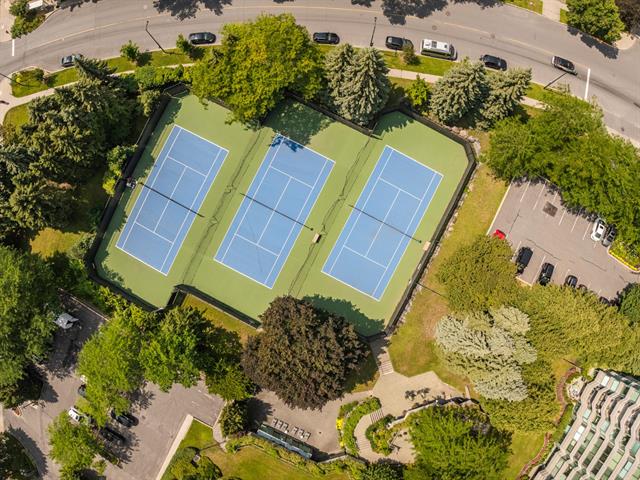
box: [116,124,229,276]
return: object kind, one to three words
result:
tennis court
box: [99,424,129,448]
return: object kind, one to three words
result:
car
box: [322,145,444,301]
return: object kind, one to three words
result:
tennis court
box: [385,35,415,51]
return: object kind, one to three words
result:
car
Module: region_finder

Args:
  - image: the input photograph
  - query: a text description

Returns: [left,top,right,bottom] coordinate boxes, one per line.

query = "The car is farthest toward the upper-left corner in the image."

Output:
[58,52,88,69]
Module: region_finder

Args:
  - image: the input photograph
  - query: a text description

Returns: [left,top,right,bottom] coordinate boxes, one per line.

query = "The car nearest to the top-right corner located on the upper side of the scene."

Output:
[549,55,579,75]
